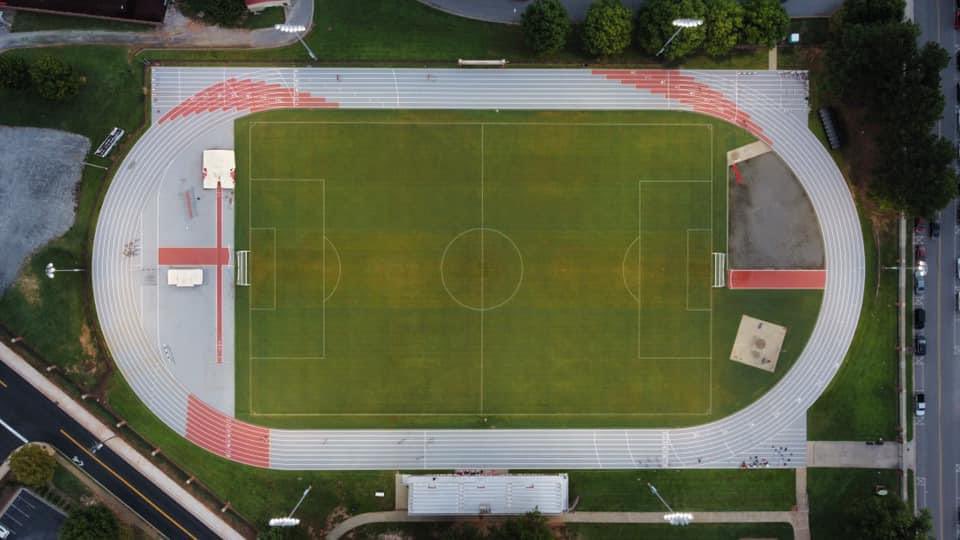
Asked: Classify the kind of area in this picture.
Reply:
sports ground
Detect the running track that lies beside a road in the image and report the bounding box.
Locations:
[94,67,868,472]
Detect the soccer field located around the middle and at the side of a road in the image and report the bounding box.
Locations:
[235,110,826,428]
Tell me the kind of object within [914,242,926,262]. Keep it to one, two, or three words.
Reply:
vehicle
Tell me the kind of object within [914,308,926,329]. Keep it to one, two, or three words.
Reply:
vehicle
